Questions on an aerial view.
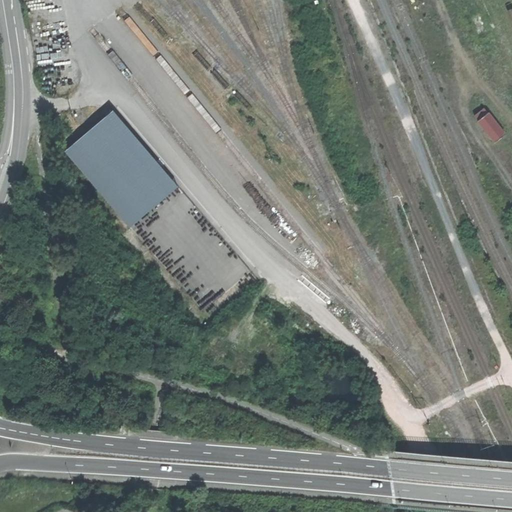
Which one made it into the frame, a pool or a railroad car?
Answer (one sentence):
This aerial view contains a railroad car.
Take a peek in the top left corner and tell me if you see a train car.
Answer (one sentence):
Yes, a train car is visible in the top left corner.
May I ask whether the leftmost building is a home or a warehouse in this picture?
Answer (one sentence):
I'd identify the leftmost building as a warehouse.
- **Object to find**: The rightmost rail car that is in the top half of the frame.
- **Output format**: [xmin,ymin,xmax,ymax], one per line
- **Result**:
[232,90,253,110]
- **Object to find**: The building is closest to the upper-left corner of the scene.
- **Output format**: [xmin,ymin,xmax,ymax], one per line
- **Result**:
[65,110,177,228]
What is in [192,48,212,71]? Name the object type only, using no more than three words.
rail car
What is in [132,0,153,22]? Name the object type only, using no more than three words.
rail car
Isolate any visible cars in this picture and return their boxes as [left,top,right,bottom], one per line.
[371,482,382,488]
[160,466,172,472]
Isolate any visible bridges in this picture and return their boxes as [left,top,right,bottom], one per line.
[388,426,512,512]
